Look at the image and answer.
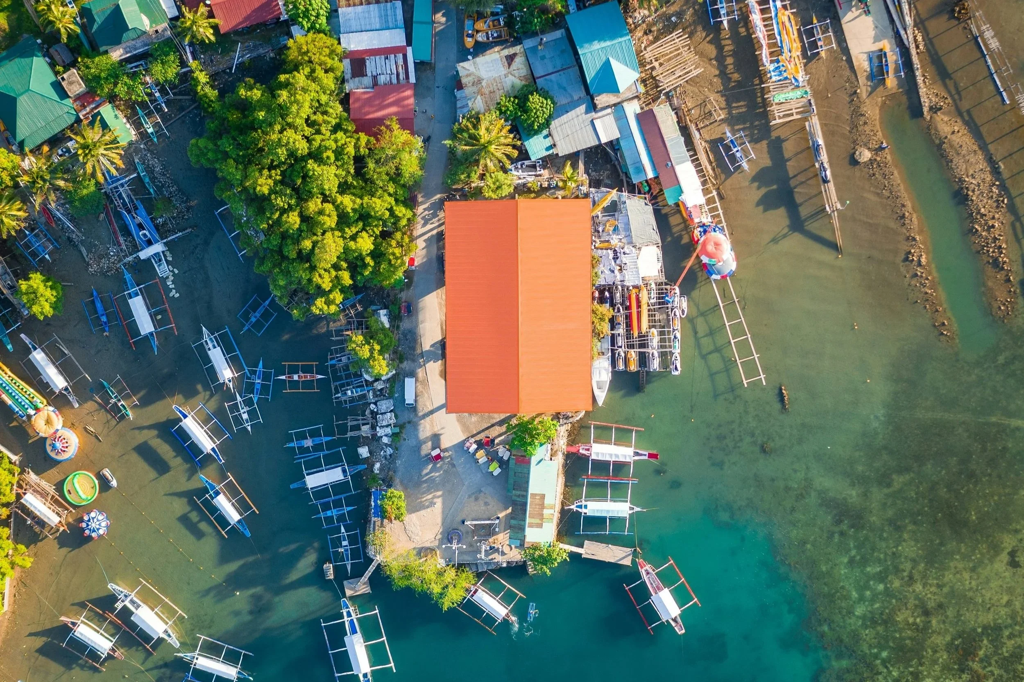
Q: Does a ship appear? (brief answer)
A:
Yes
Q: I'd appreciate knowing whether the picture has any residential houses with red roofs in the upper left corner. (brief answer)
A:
Yes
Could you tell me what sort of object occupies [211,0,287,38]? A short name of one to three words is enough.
house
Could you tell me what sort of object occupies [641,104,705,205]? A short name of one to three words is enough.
shed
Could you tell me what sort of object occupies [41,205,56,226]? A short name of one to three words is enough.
boat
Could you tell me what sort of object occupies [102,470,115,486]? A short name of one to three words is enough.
boat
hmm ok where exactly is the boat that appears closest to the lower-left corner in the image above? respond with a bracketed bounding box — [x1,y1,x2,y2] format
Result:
[60,602,128,671]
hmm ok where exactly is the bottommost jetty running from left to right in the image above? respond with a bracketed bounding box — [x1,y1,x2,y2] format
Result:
[559,539,634,567]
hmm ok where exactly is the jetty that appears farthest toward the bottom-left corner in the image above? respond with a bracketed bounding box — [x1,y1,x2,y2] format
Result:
[343,558,380,598]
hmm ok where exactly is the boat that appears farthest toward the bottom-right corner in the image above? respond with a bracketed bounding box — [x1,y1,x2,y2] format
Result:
[623,557,701,635]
